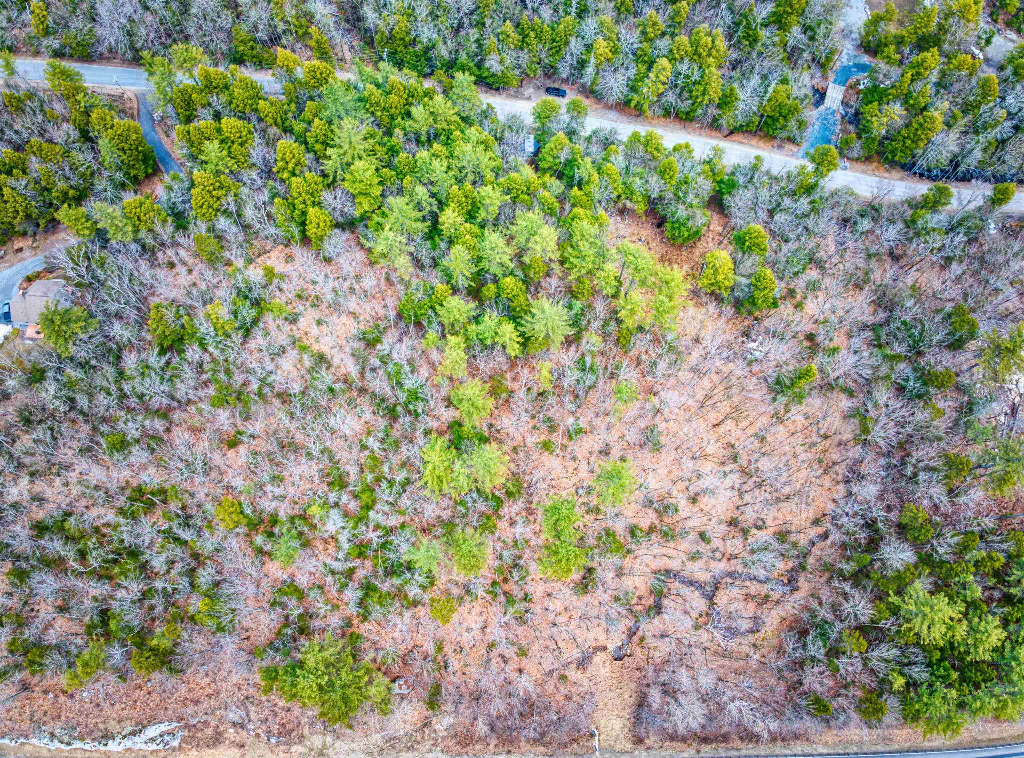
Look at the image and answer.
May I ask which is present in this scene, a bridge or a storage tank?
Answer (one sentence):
It is a bridge that can be seen here.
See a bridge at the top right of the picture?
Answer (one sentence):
Yes, the scene does show a bridge at the top right of the picture.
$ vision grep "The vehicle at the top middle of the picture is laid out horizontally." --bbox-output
[544,85,568,99]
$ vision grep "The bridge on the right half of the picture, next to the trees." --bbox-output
[811,78,846,117]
